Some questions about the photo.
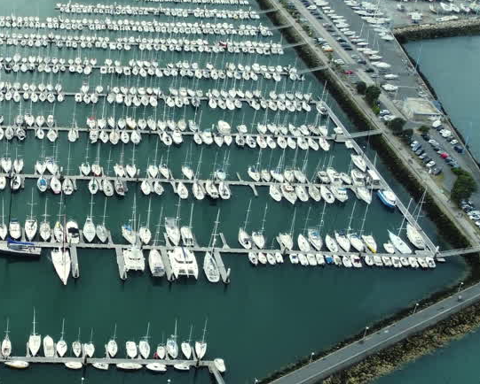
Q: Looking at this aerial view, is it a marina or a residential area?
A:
marina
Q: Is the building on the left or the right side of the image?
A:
right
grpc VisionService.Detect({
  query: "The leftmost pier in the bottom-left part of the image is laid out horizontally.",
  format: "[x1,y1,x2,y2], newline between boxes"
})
[0,342,213,367]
